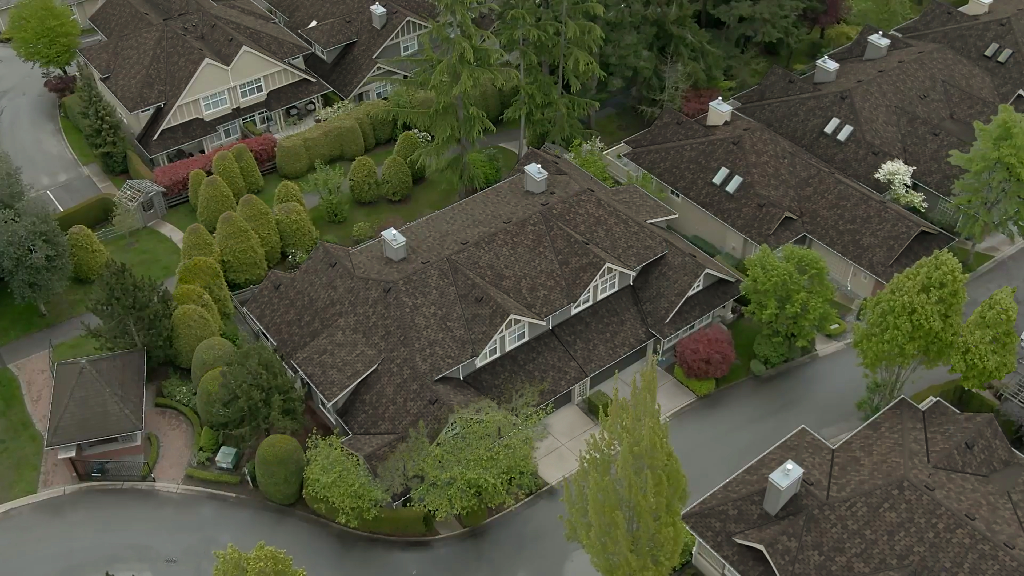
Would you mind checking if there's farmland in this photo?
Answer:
No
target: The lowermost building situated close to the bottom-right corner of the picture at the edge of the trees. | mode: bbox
[673,398,1024,576]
